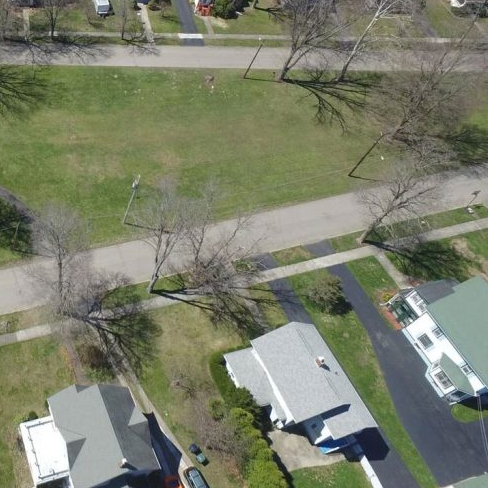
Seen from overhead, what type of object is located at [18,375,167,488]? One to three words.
house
